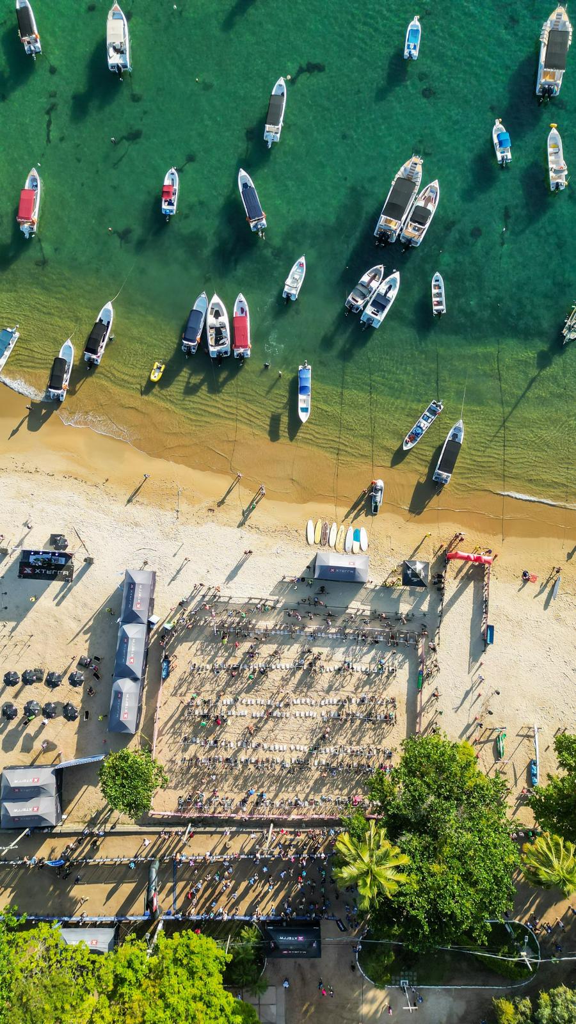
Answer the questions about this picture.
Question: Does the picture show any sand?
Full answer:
Yes, the picture does contain sand.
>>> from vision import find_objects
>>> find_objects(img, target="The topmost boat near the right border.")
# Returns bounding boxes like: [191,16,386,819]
[537,0,574,106]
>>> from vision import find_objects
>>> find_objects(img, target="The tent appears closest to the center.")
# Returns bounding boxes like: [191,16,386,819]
[314,551,368,582]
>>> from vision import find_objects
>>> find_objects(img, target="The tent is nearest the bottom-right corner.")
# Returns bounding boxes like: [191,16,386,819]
[267,914,320,957]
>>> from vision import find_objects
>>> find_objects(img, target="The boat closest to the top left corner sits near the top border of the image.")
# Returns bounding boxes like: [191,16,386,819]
[13,0,42,62]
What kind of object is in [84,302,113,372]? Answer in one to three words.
boat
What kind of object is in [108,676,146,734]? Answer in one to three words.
tent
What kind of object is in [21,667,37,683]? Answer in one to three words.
umbrella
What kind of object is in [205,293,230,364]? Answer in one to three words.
boat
